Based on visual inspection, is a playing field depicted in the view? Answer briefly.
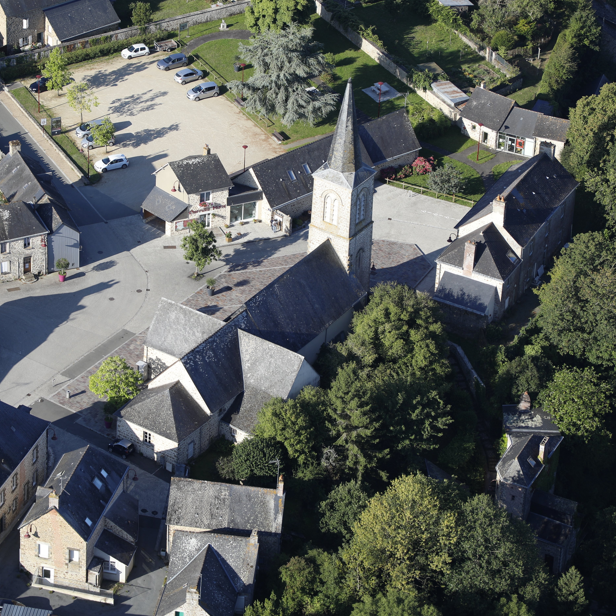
No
